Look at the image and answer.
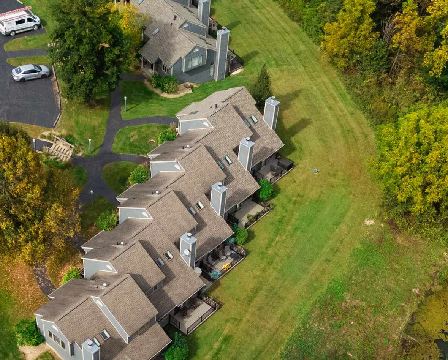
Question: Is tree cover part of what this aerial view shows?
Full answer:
Yes, some tree cover is visible.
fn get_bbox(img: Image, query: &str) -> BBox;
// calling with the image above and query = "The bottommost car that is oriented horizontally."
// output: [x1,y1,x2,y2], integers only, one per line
[10,63,51,82]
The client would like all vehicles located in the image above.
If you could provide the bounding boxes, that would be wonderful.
[10,63,51,82]
[0,8,44,35]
